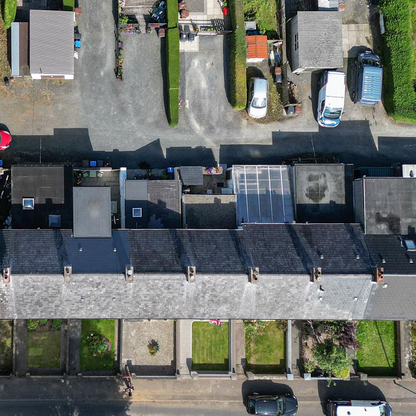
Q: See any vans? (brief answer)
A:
Yes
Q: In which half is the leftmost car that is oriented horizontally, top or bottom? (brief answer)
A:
bottom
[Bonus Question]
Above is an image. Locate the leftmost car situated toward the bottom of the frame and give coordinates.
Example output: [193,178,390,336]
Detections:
[244,391,295,416]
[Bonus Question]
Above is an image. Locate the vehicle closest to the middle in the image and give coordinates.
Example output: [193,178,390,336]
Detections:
[244,77,270,121]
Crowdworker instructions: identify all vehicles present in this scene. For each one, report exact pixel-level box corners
[352,50,381,104]
[316,68,345,126]
[0,129,11,151]
[244,391,295,416]
[244,77,270,121]
[324,397,386,416]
